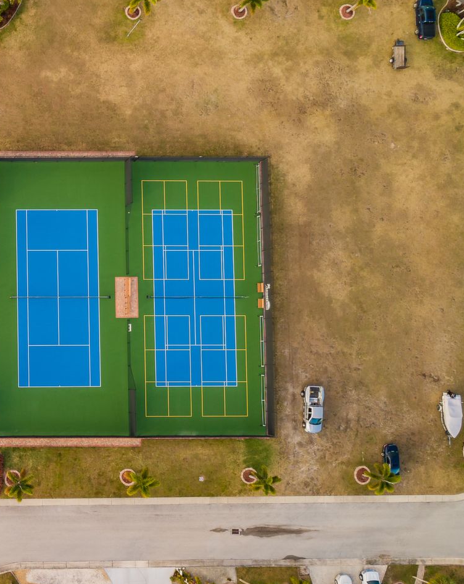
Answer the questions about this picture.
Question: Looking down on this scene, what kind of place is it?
sports ground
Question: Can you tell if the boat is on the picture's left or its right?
right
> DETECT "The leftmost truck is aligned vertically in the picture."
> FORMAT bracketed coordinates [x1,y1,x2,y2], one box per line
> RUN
[304,386,326,432]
